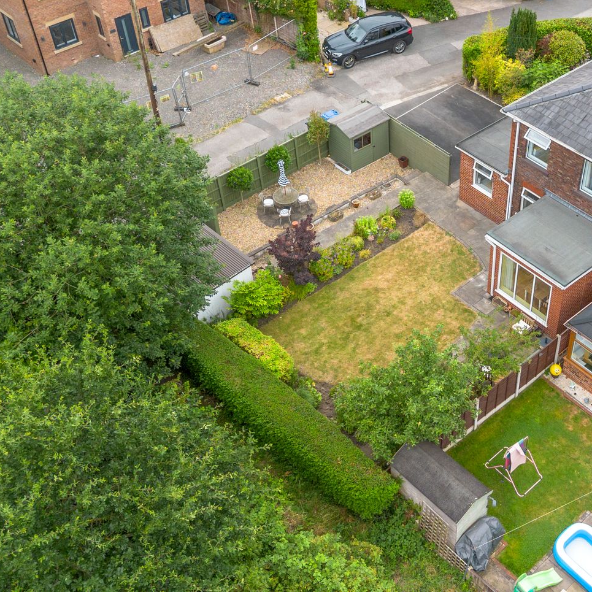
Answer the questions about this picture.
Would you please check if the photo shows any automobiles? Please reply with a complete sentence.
Yes, the frame does contain an automobile.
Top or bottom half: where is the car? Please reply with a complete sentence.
It is in the top half that the car appears.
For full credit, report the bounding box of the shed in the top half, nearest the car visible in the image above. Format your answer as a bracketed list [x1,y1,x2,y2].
[326,104,392,174]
